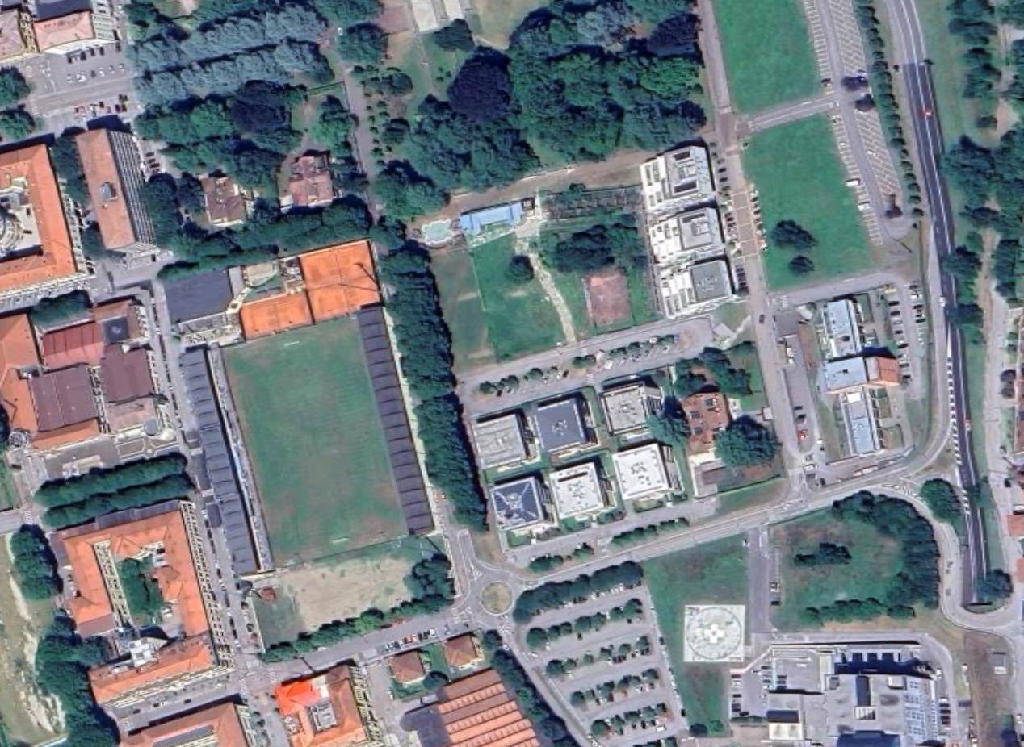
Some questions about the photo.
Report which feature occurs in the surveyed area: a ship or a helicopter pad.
helicopter pad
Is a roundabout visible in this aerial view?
Yes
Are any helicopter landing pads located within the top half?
No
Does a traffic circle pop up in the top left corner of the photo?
No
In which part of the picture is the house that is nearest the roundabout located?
bottom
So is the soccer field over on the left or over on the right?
left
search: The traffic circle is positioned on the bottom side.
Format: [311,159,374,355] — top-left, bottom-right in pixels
[462,560,526,629]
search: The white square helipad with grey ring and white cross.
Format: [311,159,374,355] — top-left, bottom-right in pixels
[684,605,745,663]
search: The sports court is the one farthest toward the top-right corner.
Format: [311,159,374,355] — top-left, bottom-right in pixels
[584,273,633,327]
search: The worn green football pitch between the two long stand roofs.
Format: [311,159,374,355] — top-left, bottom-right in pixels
[222,313,407,569]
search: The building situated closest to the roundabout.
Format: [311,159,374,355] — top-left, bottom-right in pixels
[442,631,484,668]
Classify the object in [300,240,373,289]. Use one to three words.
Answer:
tennis court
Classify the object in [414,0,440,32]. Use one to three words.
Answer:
sports court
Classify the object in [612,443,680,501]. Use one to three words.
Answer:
building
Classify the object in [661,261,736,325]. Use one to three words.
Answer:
house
